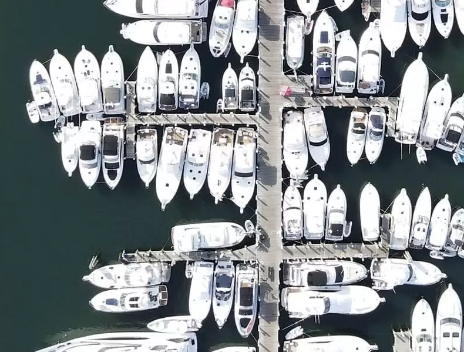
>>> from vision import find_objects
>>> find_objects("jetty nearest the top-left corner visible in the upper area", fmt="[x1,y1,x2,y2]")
[126,81,257,159]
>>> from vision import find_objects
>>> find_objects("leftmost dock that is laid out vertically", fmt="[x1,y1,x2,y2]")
[256,0,284,352]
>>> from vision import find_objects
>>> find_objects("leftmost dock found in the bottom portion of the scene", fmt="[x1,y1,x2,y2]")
[119,243,257,264]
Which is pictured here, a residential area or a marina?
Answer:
marina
